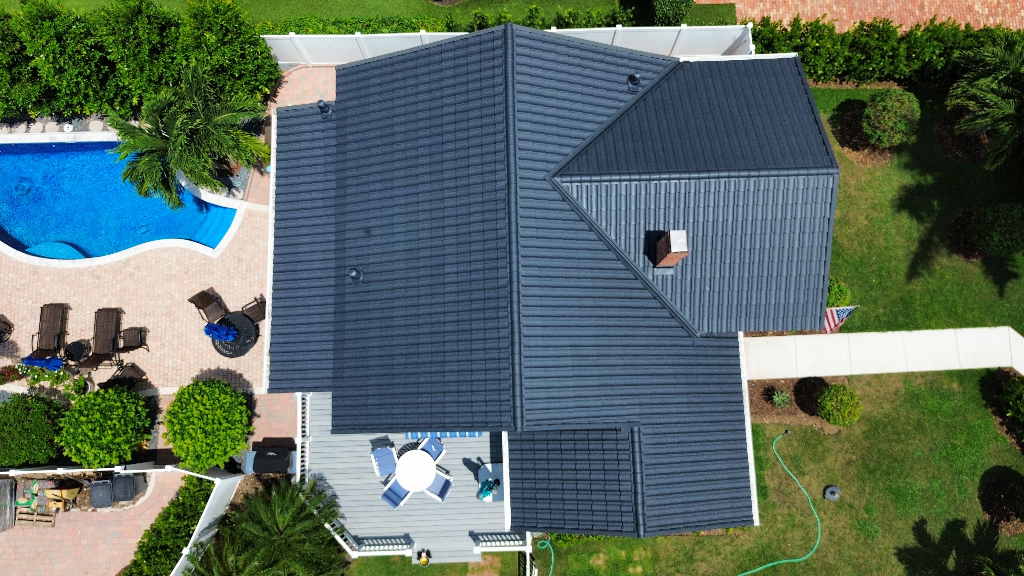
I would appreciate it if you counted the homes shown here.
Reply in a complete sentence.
Altogether the scene contains 1 home.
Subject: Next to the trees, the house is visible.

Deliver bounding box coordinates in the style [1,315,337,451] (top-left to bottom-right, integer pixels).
[262,20,843,540]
